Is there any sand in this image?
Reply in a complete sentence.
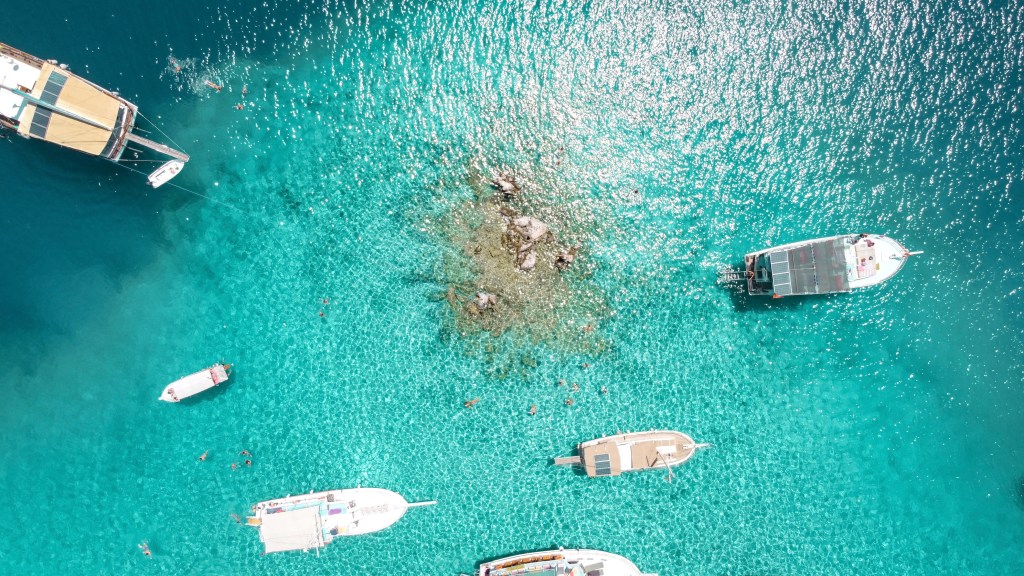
No, the picture contains no sand.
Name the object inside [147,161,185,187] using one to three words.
boat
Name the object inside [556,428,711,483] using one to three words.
boat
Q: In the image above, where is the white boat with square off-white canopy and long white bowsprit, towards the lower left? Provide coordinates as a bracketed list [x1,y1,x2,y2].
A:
[245,485,438,558]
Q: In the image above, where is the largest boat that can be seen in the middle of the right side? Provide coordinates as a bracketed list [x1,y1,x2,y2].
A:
[718,232,924,298]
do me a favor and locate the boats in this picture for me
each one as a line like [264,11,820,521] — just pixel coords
[245,485,438,558]
[718,232,924,298]
[474,545,658,576]
[147,161,185,187]
[0,42,224,205]
[556,428,711,483]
